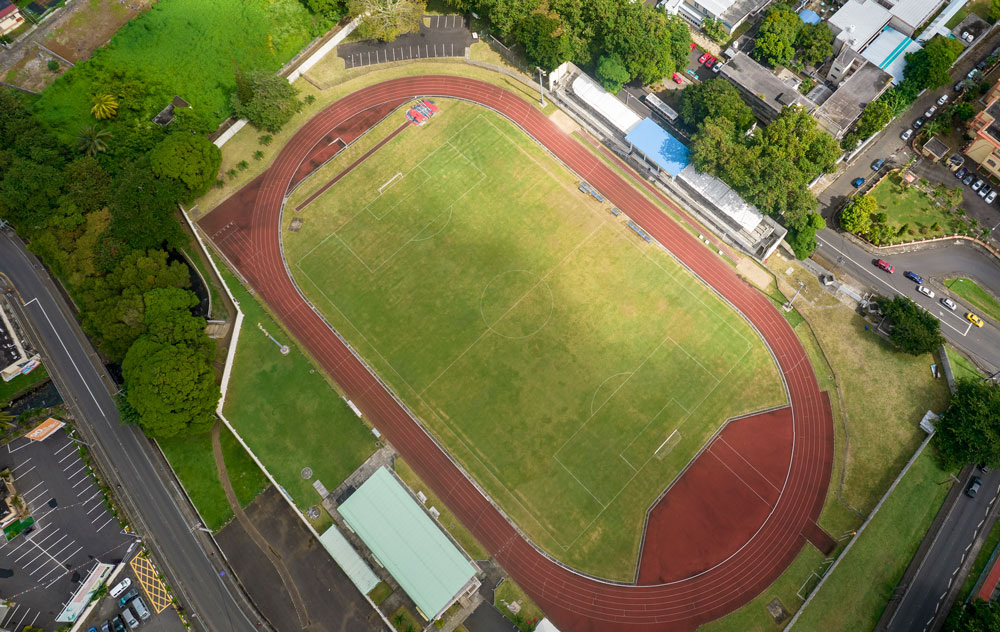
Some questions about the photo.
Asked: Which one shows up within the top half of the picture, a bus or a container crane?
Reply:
bus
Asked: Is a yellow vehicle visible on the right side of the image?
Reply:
Yes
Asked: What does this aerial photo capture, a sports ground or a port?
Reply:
sports ground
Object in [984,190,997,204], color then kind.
white vehicle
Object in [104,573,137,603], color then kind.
white van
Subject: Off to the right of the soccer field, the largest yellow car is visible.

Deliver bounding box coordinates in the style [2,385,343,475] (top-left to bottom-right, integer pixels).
[965,312,983,328]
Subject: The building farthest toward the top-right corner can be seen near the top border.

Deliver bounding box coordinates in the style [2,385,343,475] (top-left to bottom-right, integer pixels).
[952,13,991,54]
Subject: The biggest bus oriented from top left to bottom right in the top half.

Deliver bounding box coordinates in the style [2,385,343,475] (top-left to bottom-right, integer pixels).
[645,96,679,130]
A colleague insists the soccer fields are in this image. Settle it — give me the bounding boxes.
[277,95,787,586]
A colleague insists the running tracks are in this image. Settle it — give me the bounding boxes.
[196,71,841,632]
